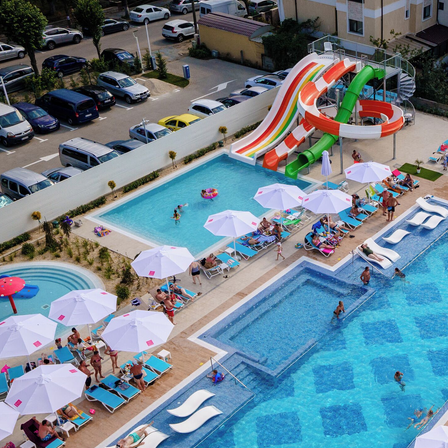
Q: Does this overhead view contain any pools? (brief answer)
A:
Yes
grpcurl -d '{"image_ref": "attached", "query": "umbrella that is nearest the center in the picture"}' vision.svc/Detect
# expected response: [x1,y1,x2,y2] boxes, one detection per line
[200,212,259,262]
